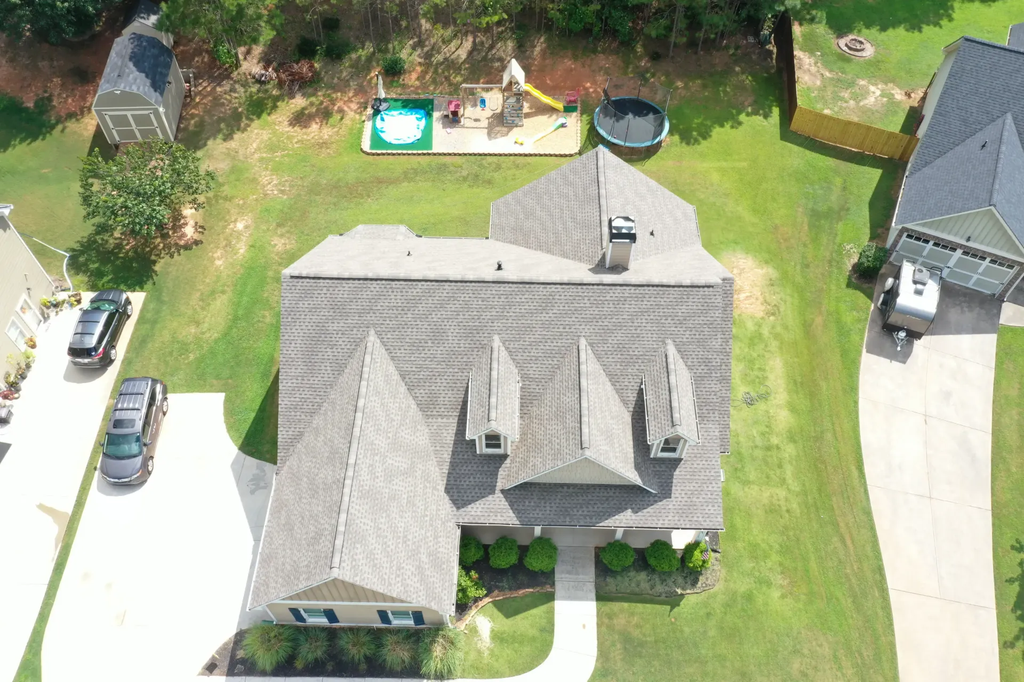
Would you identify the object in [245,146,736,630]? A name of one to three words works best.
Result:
house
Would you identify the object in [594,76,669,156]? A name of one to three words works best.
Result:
trampoline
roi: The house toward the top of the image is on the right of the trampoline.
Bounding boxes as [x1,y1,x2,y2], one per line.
[884,31,1024,301]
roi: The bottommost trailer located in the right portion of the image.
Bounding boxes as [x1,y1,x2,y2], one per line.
[875,257,943,352]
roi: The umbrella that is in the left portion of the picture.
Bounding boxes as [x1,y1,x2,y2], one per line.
[370,67,391,109]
